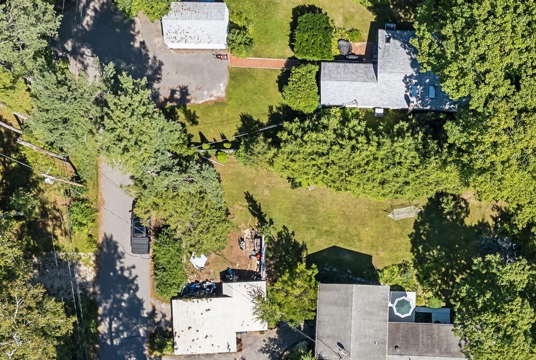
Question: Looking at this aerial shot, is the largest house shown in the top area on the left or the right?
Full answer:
The largest house shown in the top area appears in the right half of the scene.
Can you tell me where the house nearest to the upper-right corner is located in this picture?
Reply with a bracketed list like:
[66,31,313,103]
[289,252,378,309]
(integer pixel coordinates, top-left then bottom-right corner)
[319,22,467,118]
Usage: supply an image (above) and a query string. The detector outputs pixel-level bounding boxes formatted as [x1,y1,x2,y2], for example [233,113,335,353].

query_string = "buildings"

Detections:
[315,284,481,360]
[162,1,229,49]
[173,282,269,356]
[319,22,467,118]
